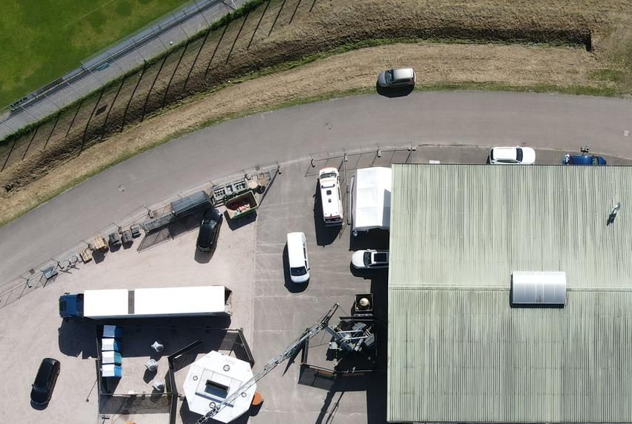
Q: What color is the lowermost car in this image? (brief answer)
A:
black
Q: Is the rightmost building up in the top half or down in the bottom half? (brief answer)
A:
bottom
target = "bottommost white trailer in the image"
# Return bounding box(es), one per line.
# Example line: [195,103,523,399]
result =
[84,286,238,322]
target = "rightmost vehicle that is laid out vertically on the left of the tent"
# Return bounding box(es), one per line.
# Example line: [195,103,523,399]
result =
[316,171,344,229]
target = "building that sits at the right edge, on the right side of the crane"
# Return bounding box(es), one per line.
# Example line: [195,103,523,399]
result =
[387,163,632,424]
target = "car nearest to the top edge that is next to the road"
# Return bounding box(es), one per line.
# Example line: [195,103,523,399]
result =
[379,67,416,89]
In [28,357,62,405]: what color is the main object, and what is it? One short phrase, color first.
black car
